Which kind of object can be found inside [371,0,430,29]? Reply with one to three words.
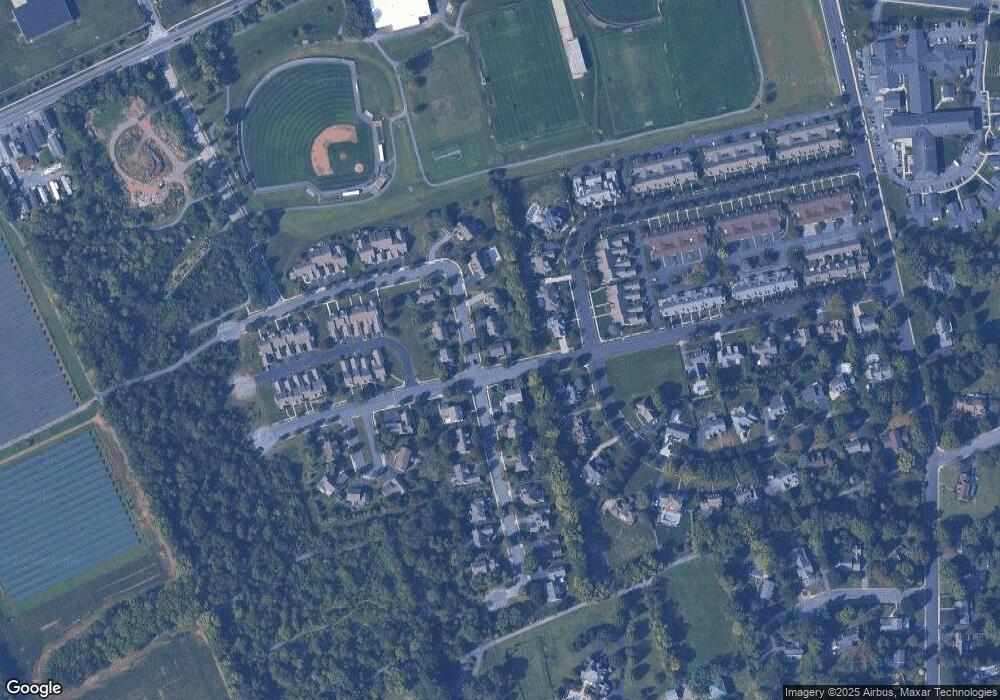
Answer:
building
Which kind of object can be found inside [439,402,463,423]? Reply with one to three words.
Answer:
house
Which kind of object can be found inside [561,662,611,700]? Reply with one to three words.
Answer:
house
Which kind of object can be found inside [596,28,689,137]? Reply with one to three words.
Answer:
soccer field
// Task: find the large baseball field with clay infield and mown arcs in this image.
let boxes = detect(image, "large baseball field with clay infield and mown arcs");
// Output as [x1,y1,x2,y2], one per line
[241,57,381,194]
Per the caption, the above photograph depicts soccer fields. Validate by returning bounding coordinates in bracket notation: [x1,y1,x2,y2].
[596,28,689,137]
[662,0,758,117]
[468,0,590,154]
